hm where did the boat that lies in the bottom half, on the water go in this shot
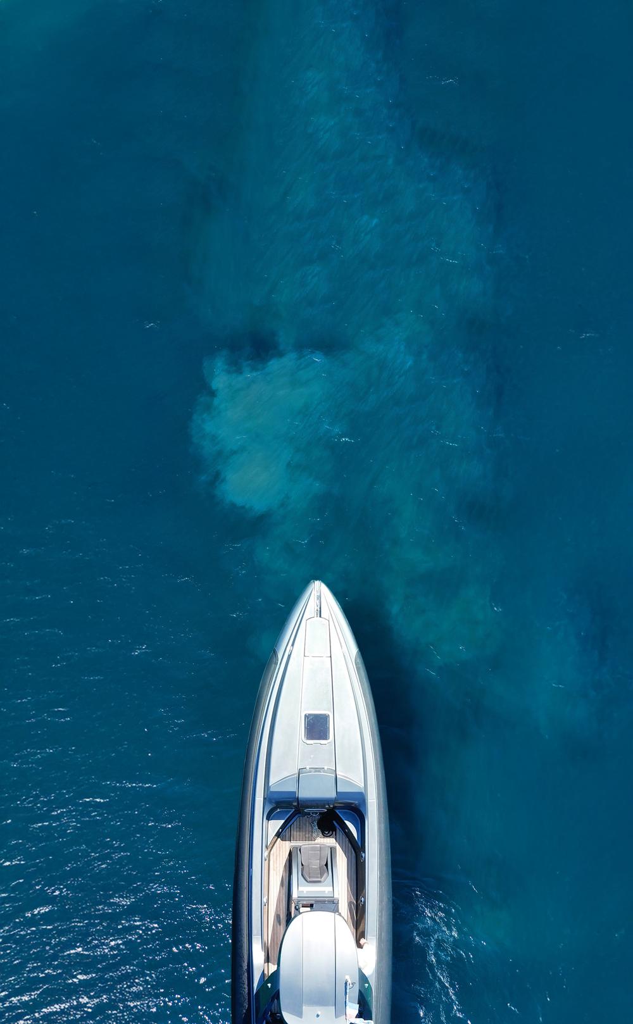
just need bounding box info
[232,580,391,1024]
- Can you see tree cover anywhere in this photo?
No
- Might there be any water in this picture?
Yes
